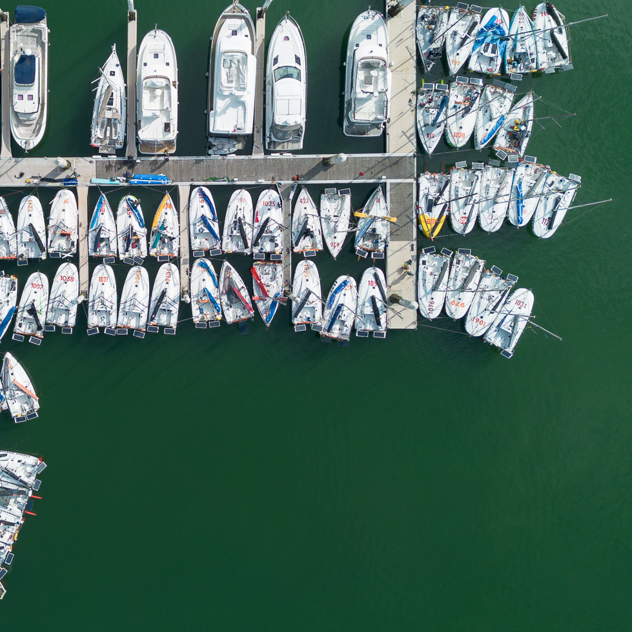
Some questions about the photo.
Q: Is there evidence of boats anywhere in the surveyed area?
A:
Yes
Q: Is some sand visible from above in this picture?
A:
No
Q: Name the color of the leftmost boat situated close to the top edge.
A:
white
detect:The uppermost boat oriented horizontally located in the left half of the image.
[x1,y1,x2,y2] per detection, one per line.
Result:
[201,137,238,153]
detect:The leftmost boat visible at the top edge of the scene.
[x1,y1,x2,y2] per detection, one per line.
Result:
[10,7,51,154]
